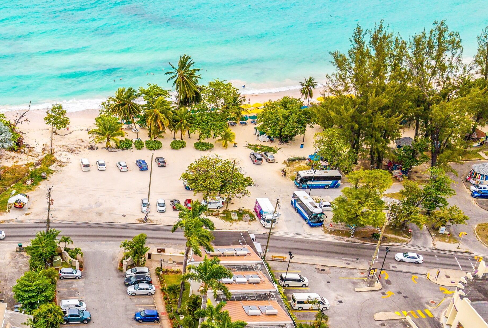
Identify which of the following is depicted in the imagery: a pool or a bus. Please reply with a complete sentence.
Of the two, only a bus appears.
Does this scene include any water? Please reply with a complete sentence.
Yes, some water is visible.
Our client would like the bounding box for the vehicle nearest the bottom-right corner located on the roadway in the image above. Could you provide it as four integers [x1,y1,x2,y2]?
[394,252,424,264]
